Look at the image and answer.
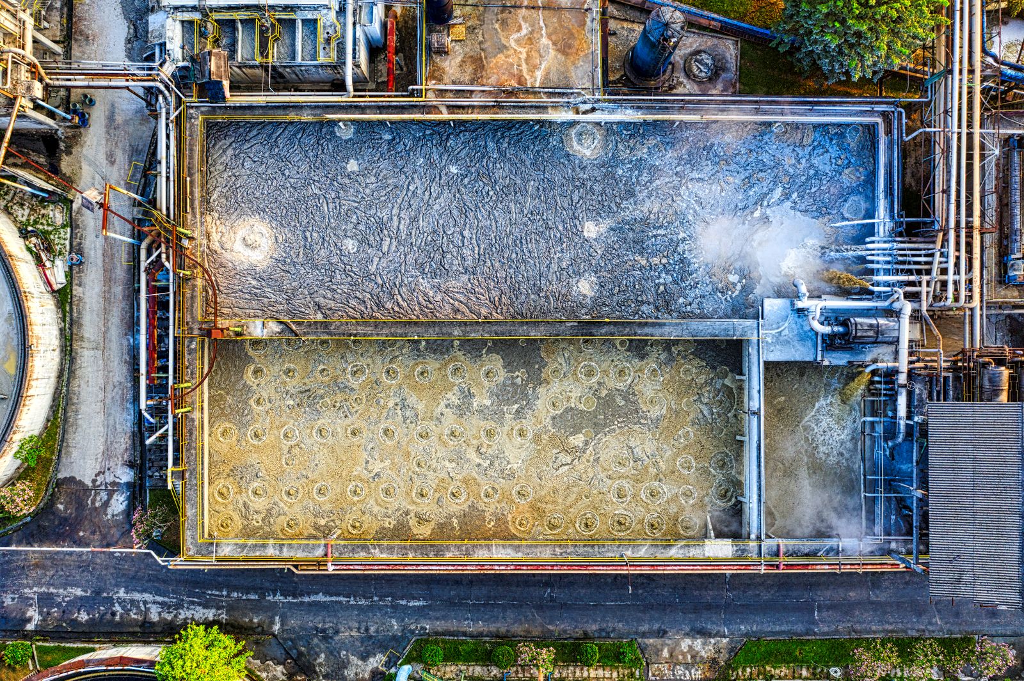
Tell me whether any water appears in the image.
Yes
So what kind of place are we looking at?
industrial area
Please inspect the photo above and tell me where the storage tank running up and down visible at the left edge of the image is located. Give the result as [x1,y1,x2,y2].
[0,210,61,487]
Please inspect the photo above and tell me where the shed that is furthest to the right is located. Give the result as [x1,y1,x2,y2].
[886,400,1024,612]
